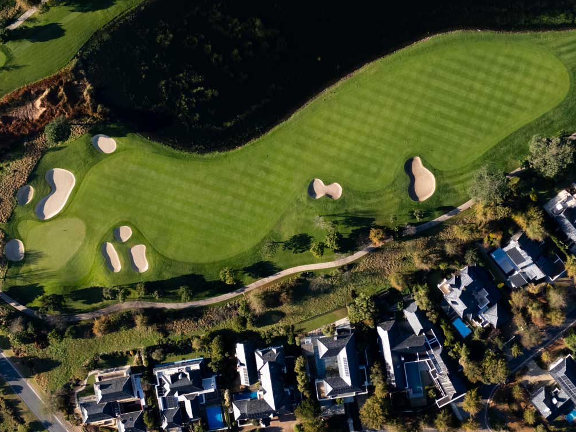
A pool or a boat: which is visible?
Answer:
pool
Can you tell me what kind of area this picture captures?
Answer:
golf course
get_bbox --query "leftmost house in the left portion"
[77,361,147,432]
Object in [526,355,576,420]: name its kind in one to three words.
house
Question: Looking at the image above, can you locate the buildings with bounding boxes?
[505,232,563,288]
[375,304,464,406]
[305,328,367,401]
[435,263,510,330]
[544,175,576,260]
[526,355,576,420]
[230,337,290,427]
[77,361,147,432]
[154,354,217,432]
